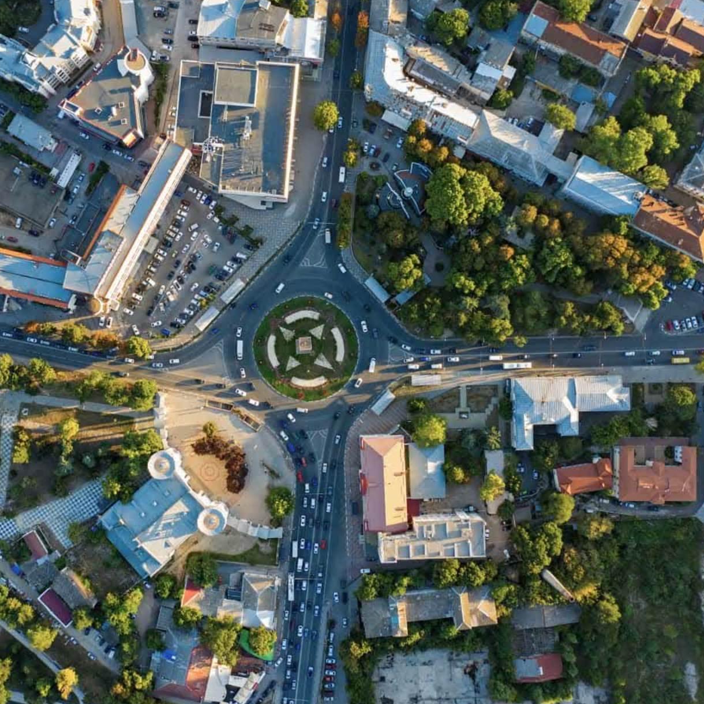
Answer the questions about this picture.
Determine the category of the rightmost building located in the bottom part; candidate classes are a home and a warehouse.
home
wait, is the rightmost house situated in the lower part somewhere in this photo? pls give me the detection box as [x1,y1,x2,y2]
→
[606,436,696,506]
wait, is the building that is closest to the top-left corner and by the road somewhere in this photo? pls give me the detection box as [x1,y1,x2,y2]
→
[0,0,107,103]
